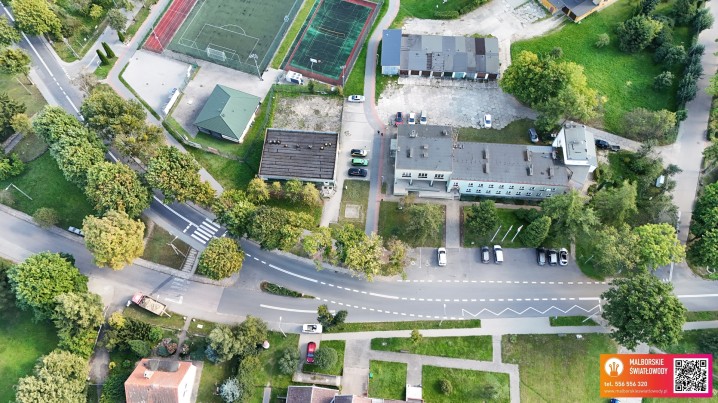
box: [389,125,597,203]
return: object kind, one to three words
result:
building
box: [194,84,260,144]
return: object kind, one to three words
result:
building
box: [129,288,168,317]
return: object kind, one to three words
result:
truck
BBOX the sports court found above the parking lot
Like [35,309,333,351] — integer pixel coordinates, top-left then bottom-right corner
[286,0,377,86]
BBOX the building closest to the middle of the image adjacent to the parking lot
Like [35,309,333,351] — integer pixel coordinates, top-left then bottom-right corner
[259,128,339,200]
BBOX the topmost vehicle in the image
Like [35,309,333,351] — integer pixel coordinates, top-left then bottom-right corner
[282,67,305,85]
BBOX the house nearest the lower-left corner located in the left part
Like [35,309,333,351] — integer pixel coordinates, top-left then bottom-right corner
[124,359,196,403]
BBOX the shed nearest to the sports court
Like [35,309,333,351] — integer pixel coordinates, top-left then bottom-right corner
[381,29,402,74]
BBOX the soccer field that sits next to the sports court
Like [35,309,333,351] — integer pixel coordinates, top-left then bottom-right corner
[165,0,302,76]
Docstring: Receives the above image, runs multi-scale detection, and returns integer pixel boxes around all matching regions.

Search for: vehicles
[67,224,86,238]
[419,109,427,125]
[348,168,368,177]
[483,113,492,130]
[481,246,491,265]
[557,247,569,266]
[438,247,447,267]
[493,245,504,265]
[536,247,546,266]
[306,342,317,364]
[350,149,367,158]
[547,249,557,266]
[129,288,168,317]
[395,111,404,127]
[302,323,323,334]
[595,138,613,150]
[350,158,367,167]
[408,111,416,125]
[347,94,365,102]
[282,67,305,85]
